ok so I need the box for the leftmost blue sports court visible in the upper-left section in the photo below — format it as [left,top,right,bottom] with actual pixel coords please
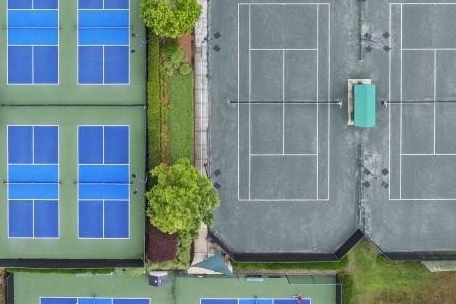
[7,0,58,85]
